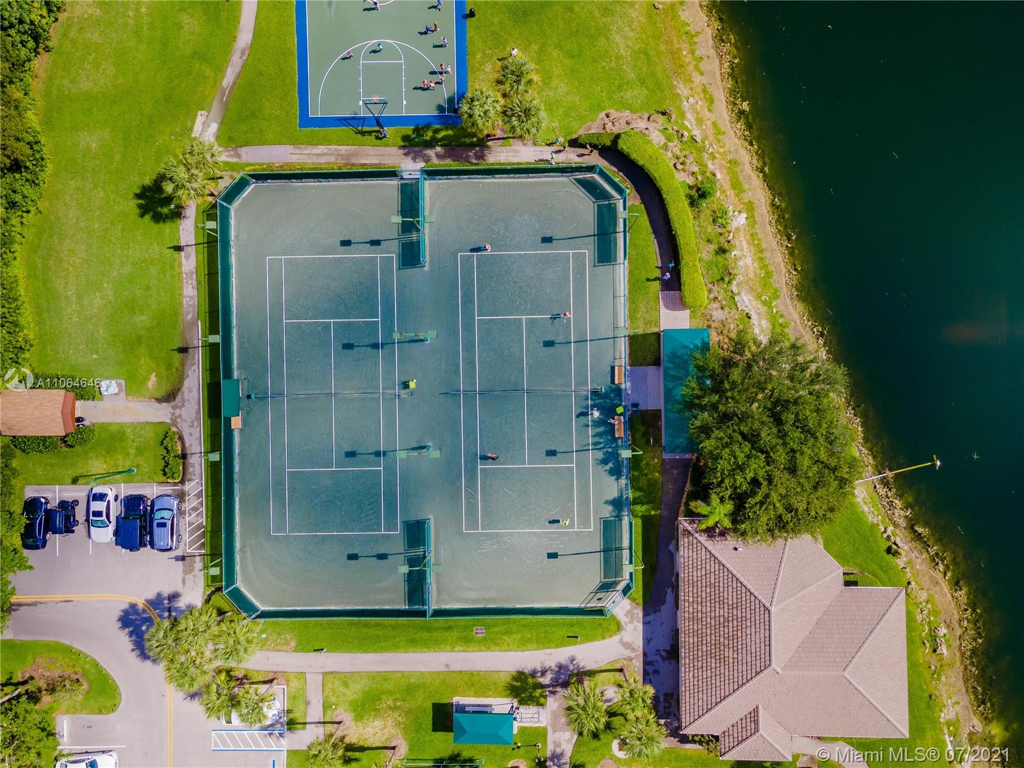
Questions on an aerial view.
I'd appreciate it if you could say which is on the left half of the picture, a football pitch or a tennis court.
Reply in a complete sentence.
The one visible on the left half of the picture is a tennis court.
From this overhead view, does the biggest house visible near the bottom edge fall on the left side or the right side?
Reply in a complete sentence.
The biggest house visible near the bottom edge appears in the right half of the scene.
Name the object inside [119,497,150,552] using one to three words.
car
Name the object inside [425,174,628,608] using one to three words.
tennis court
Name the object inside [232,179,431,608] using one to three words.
tennis court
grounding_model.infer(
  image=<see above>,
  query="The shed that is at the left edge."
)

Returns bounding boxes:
[0,389,81,436]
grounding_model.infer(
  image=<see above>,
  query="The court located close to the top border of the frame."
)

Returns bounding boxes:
[295,0,469,128]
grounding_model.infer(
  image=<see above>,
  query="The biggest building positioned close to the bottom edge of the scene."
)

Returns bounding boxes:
[678,517,909,762]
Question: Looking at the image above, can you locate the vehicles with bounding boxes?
[51,503,78,537]
[119,497,150,552]
[152,495,182,552]
[23,496,51,550]
[57,752,118,768]
[88,486,118,543]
